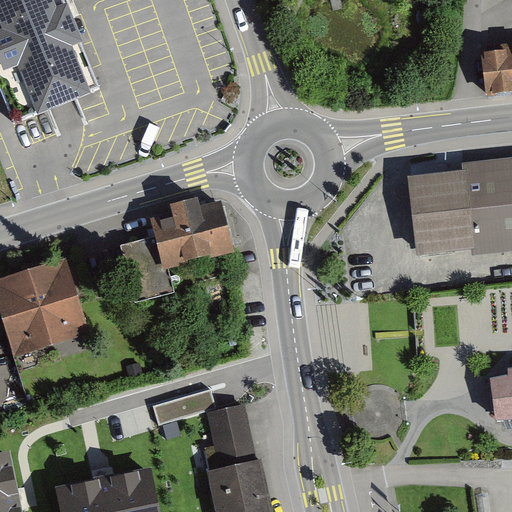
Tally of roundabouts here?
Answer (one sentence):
My tally gives 1 roundabout in this photo.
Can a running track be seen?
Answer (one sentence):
No, the photo shows no running track.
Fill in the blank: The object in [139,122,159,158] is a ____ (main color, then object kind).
white vehicle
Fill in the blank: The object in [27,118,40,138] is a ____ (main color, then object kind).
white vehicle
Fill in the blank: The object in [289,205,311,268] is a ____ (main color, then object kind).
white bus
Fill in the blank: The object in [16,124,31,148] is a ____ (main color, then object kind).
white car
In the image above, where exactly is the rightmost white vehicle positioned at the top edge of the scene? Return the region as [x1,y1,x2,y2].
[232,7,248,30]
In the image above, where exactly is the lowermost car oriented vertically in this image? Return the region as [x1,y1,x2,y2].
[109,416,122,440]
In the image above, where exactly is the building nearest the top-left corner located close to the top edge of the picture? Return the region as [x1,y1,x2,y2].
[0,0,99,136]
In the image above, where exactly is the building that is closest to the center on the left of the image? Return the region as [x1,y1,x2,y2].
[150,198,234,269]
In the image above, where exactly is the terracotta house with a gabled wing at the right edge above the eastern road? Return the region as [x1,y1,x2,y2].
[482,44,512,96]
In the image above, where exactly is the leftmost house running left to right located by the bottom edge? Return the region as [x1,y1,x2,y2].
[55,467,160,512]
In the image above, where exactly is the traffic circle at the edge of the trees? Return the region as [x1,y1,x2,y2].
[232,106,346,220]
